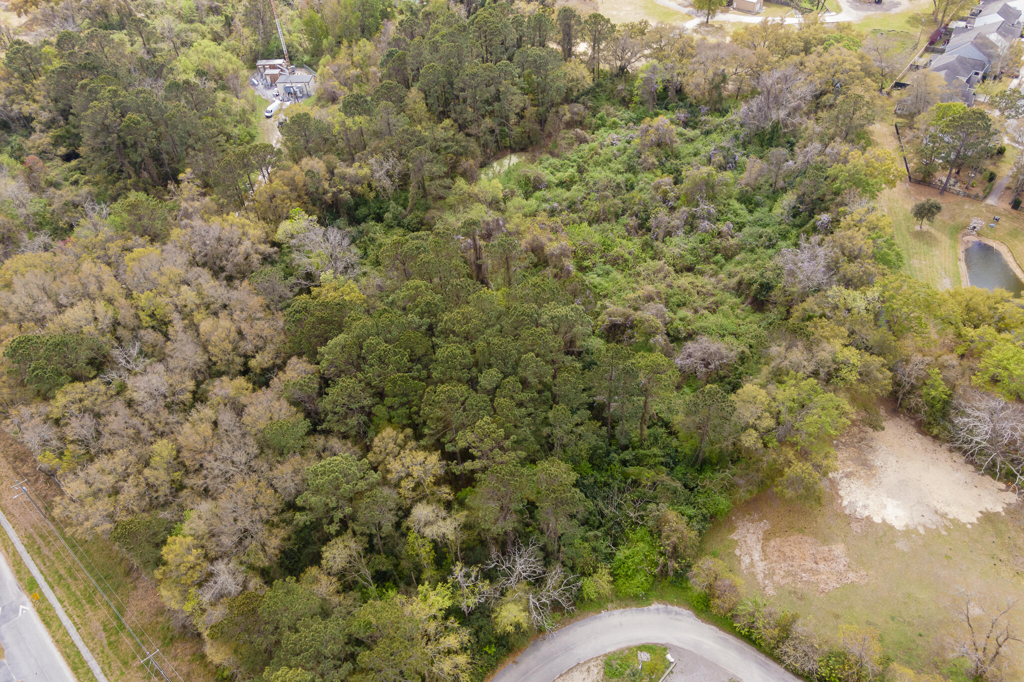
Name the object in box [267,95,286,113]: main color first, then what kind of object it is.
white vehicle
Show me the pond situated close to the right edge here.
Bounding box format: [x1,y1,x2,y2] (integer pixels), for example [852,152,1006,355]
[965,242,1024,328]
